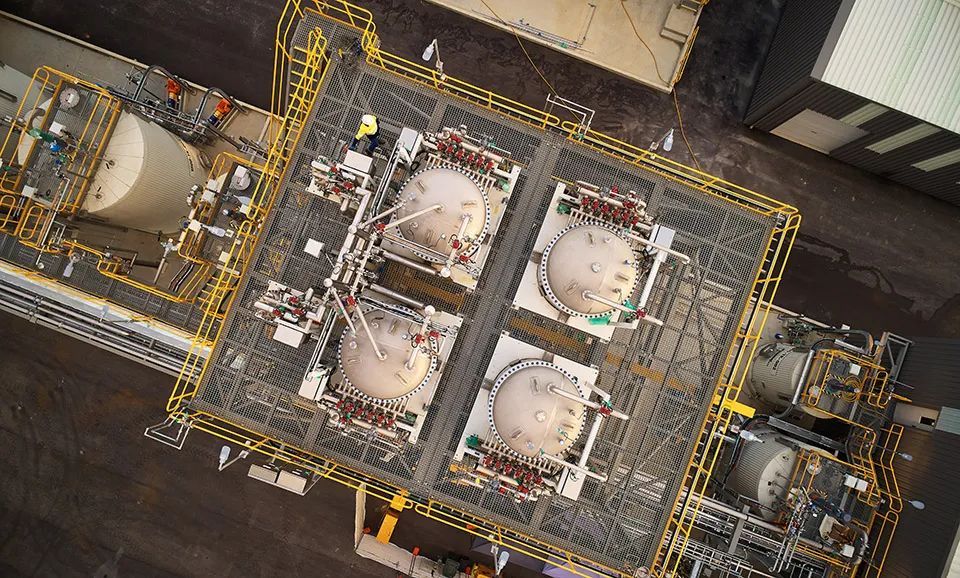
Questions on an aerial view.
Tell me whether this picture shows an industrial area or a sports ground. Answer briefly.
industrial area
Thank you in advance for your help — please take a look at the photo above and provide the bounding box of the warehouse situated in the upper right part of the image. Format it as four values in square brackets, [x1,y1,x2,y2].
[742,0,960,205]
